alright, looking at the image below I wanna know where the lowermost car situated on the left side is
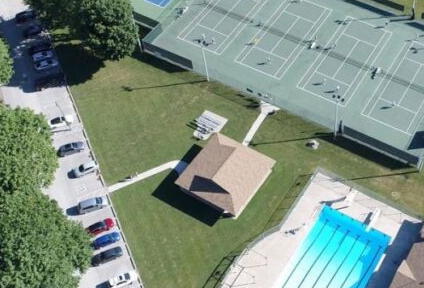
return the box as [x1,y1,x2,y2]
[107,272,138,288]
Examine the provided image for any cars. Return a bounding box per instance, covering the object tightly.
[94,248,123,268]
[91,234,120,253]
[30,52,54,64]
[87,220,116,238]
[71,162,98,180]
[58,140,84,156]
[20,27,44,39]
[15,12,37,23]
[77,197,108,217]
[107,272,138,288]
[49,116,72,130]
[26,42,50,56]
